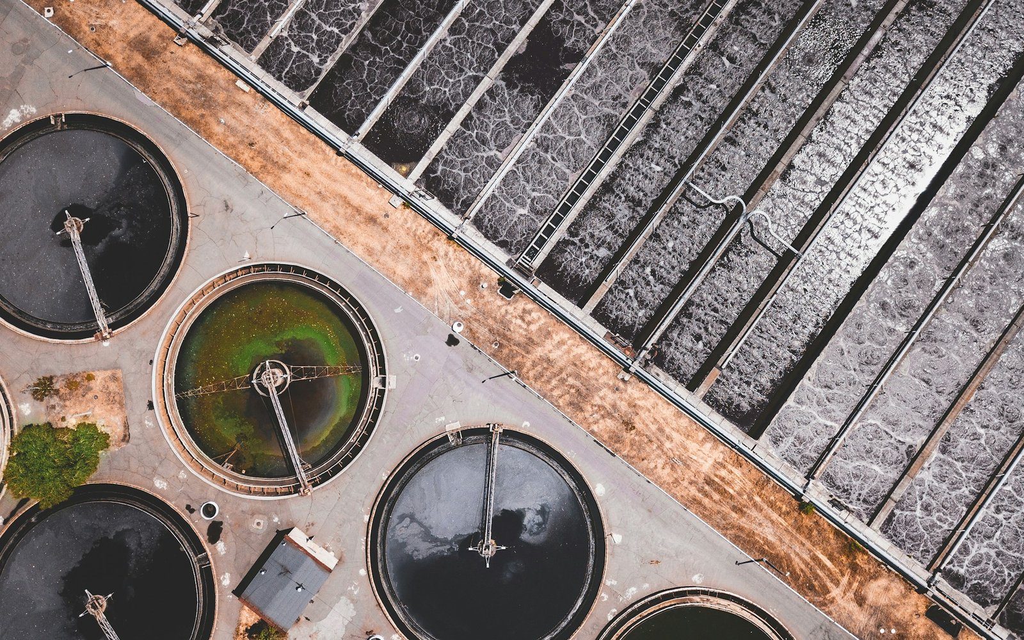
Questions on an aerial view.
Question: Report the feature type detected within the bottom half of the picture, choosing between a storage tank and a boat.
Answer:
storage tank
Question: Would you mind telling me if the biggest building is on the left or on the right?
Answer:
left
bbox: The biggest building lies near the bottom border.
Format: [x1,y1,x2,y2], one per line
[238,528,338,633]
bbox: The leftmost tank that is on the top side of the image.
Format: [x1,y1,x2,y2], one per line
[0,110,191,344]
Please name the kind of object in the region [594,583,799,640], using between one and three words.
storage tank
